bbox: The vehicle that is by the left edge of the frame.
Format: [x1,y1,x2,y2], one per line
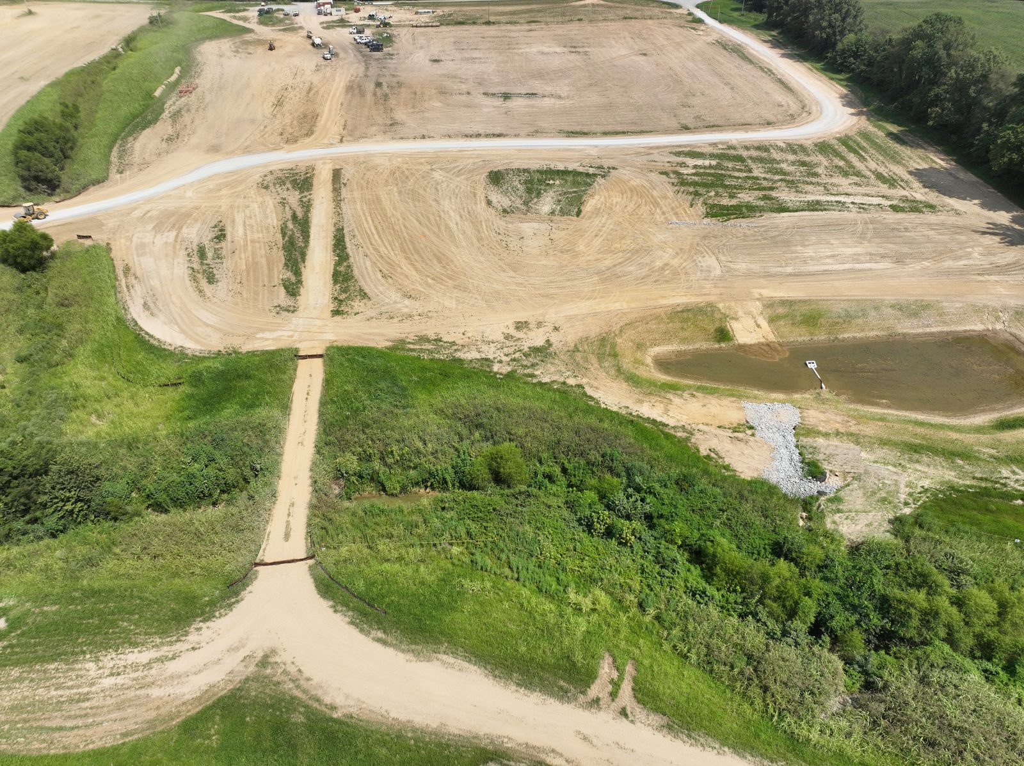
[10,200,50,222]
